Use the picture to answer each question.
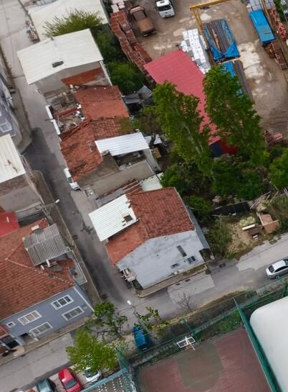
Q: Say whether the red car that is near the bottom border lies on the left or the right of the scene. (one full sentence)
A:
You can find the red car that is near the bottom border on the left side of the picture.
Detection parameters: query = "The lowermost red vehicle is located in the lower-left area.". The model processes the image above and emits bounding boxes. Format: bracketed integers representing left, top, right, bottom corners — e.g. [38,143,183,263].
[57,366,83,392]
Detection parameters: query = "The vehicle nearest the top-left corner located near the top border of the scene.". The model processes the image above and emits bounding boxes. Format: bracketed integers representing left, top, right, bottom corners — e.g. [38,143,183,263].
[126,2,155,36]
